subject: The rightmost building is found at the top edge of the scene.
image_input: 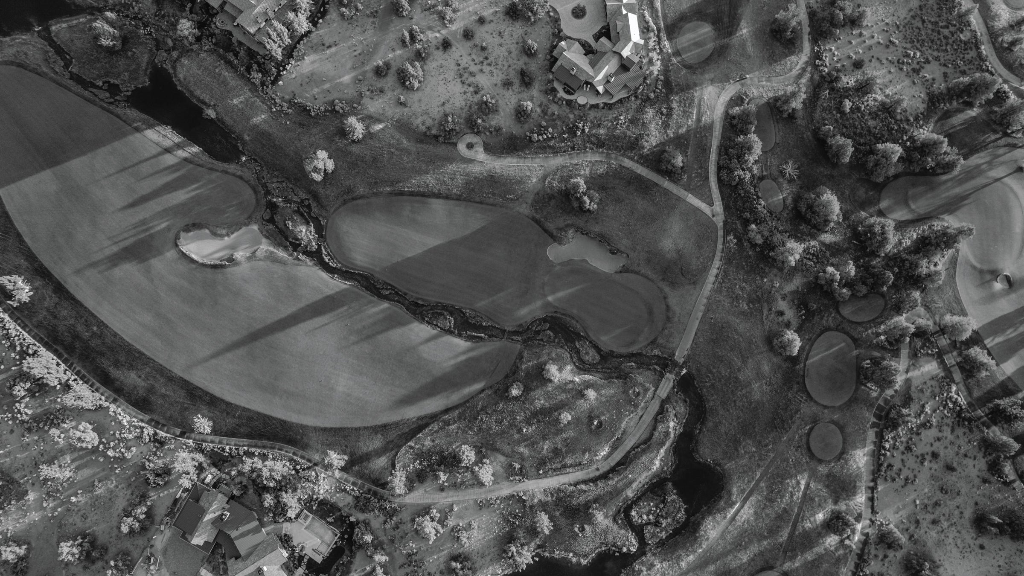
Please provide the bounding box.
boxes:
[552,0,645,97]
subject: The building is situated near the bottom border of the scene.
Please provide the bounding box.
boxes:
[172,480,296,576]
